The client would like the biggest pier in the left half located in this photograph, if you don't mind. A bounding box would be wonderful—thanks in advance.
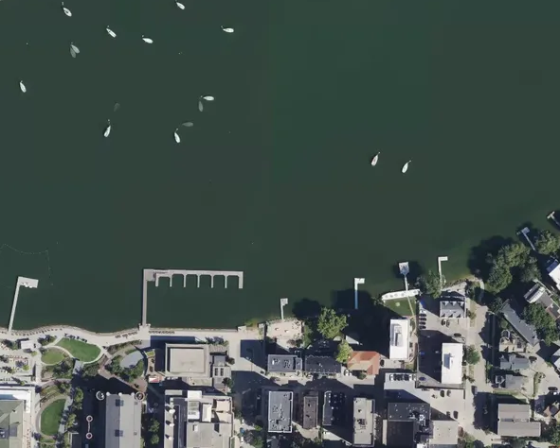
[140,269,243,330]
